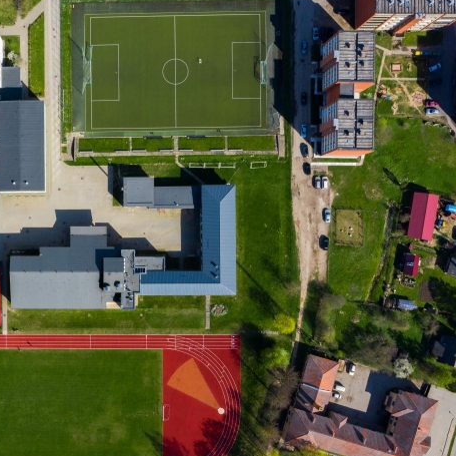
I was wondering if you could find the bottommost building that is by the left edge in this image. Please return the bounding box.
[10,226,107,309]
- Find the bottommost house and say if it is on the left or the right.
right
